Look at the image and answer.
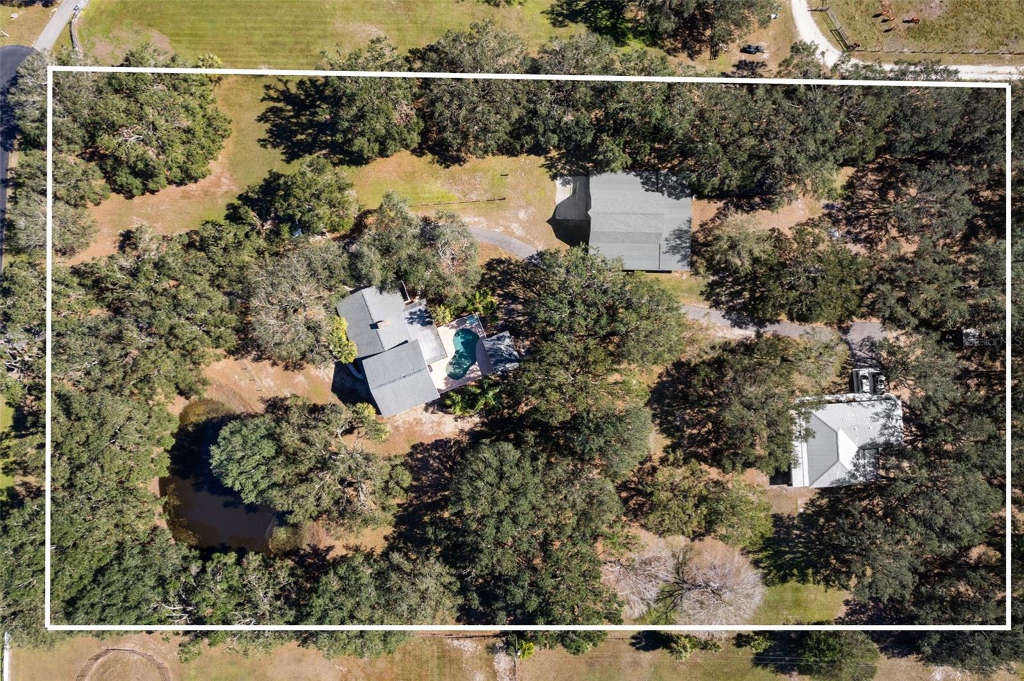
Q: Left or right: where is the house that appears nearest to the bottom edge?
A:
right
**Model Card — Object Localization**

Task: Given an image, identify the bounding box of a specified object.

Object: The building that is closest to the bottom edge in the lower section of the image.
[789,400,896,487]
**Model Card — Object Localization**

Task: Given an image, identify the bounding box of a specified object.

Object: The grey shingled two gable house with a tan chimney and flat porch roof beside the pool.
[337,281,447,419]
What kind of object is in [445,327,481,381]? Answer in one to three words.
swimming pool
